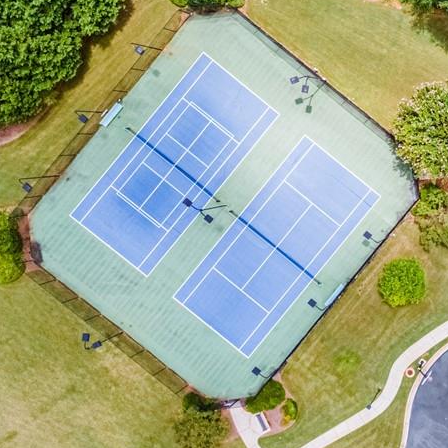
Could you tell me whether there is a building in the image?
No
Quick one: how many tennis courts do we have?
two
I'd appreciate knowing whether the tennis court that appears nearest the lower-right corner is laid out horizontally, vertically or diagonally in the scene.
diagonally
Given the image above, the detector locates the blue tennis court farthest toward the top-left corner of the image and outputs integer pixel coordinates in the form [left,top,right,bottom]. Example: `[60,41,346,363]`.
[70,51,280,278]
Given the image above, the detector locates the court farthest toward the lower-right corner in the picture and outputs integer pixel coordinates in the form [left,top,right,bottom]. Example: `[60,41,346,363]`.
[174,135,381,359]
